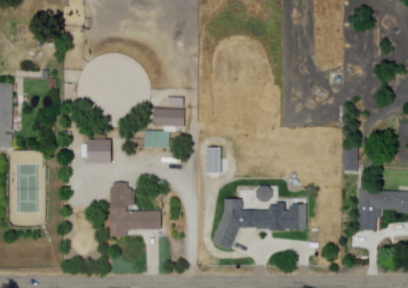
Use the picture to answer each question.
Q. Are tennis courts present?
Yes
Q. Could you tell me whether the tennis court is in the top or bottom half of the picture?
bottom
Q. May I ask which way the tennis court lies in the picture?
up and down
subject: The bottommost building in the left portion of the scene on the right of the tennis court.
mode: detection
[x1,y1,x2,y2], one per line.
[109,180,160,238]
